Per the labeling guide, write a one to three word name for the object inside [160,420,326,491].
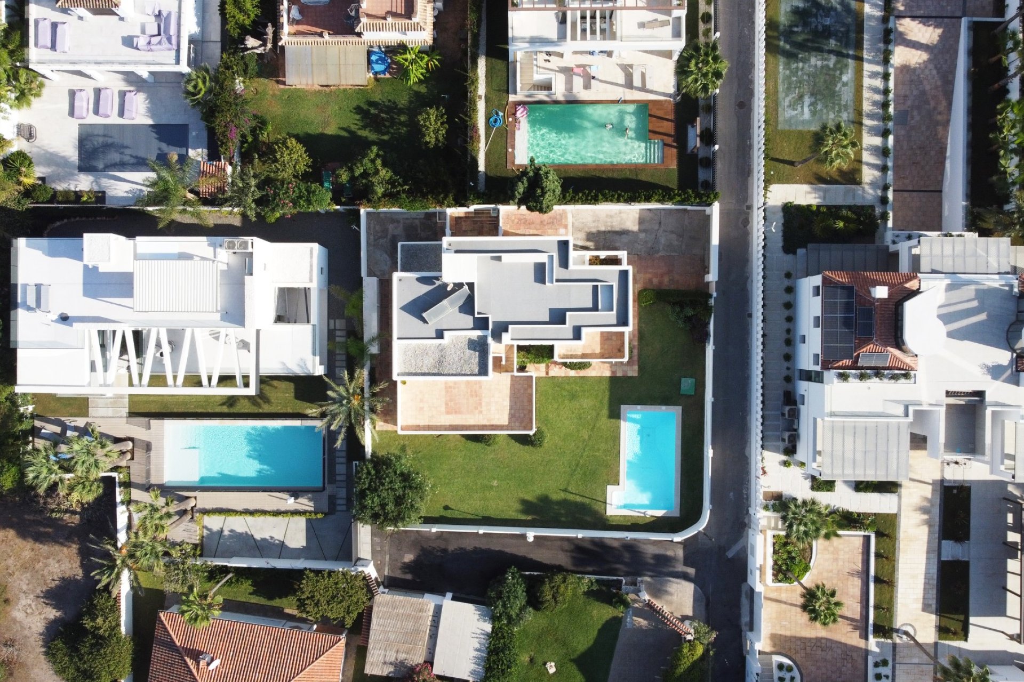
swimming pool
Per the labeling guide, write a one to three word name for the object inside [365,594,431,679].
shed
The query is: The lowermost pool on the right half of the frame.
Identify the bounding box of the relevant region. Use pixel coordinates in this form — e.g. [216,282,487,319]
[606,404,682,516]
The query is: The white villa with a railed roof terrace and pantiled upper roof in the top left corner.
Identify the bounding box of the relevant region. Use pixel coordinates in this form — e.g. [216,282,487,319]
[31,0,196,82]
